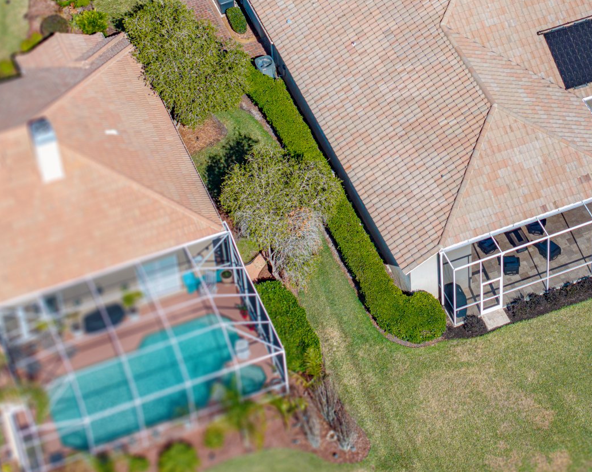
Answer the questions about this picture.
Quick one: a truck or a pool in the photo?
pool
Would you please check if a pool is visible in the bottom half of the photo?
Yes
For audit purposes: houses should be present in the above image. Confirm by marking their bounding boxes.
[0,25,228,343]
[240,0,592,303]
